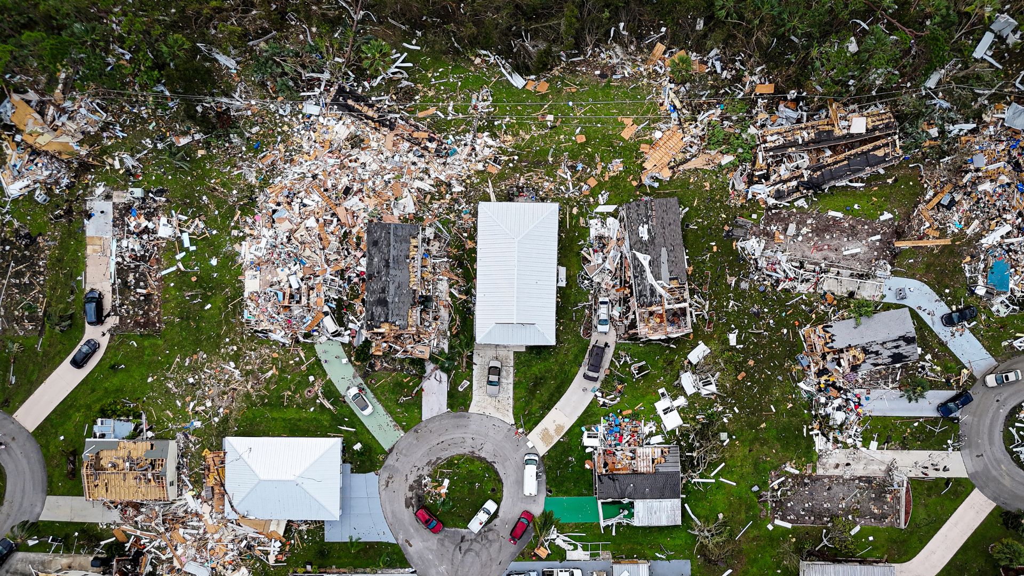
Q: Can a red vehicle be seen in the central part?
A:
No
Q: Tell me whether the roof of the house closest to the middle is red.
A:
No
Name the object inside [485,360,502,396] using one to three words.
car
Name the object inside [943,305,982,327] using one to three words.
car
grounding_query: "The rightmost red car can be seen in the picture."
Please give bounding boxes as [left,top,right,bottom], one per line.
[507,511,532,550]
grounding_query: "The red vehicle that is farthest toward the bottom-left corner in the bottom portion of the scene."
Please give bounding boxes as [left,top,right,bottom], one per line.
[412,505,444,537]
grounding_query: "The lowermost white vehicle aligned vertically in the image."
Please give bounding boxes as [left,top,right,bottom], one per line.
[522,454,540,500]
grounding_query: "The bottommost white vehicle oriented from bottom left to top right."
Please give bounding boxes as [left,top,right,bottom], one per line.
[466,500,498,537]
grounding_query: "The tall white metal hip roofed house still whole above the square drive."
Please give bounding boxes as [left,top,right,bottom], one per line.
[474,201,559,346]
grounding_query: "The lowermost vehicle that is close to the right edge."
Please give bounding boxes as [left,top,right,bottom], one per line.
[938,390,980,418]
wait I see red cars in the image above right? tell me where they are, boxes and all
[507,511,532,550]
[412,505,444,537]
